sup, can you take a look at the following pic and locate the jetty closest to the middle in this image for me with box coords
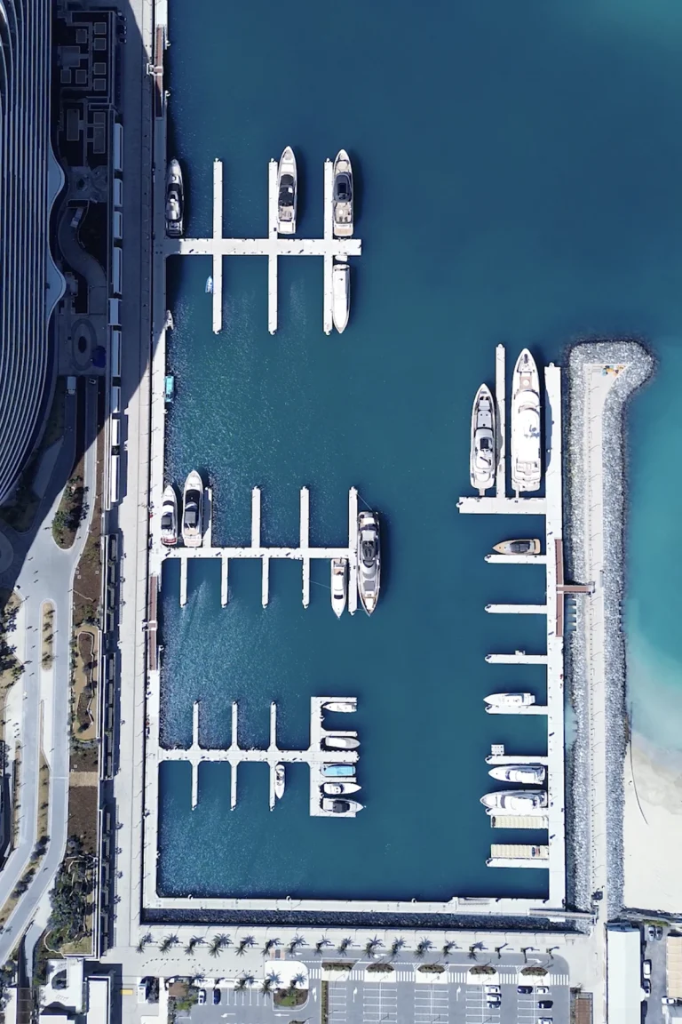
[161,485,358,616]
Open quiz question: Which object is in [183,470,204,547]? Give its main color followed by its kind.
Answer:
white boat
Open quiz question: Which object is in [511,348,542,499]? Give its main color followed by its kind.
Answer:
white boat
